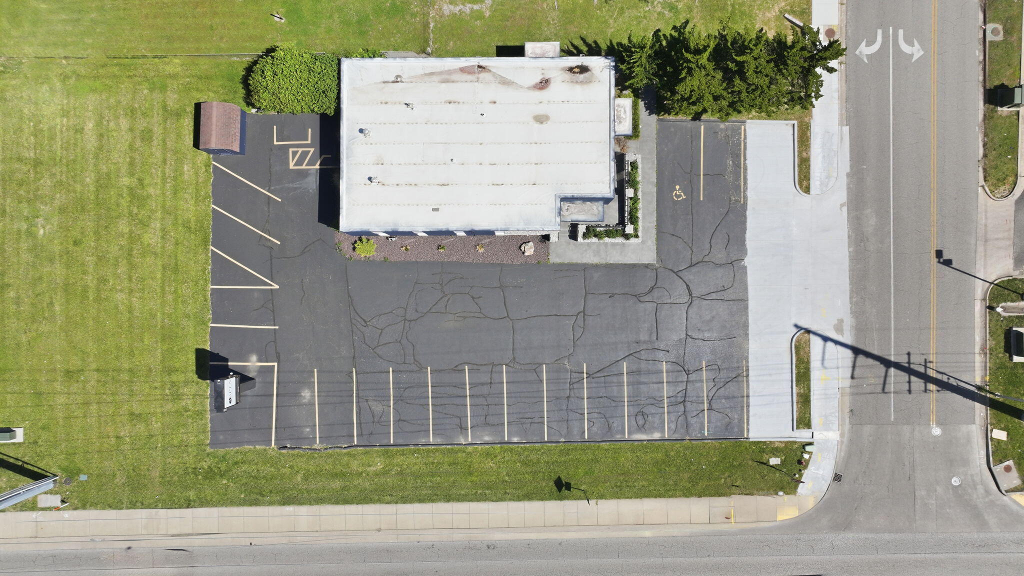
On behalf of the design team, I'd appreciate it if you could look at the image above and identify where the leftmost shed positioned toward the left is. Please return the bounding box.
[201,102,245,160]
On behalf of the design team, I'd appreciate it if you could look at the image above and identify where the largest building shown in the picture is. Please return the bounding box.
[341,43,632,236]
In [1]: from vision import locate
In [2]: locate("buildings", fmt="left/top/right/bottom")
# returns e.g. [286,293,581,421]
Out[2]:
[341,43,632,236]
[201,102,245,160]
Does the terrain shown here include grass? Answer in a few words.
Yes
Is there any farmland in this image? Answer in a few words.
No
